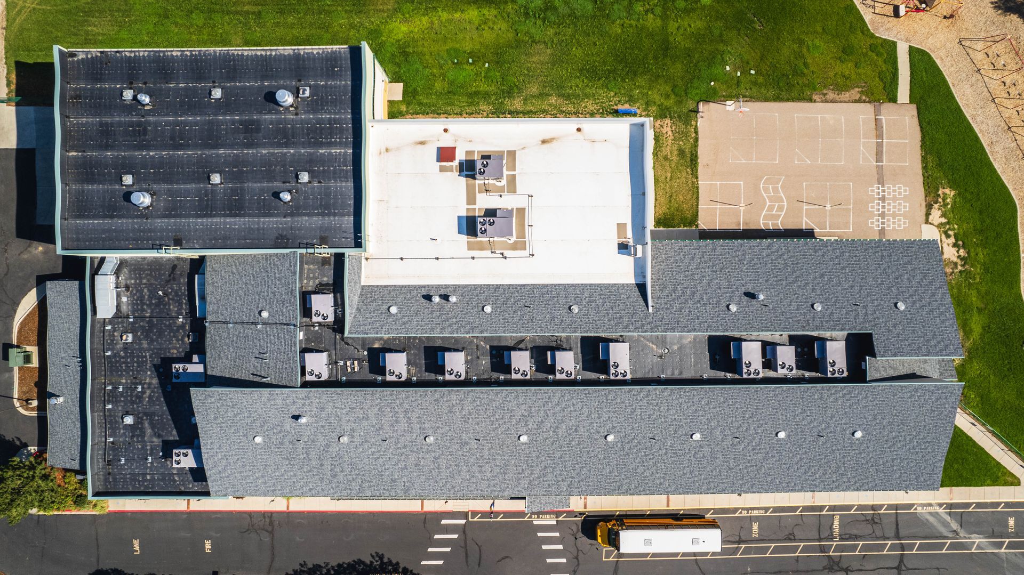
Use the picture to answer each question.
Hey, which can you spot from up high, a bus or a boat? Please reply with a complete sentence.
Of the two, only a bus appears.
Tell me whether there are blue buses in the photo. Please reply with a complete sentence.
No, no blue bus can be seen from above.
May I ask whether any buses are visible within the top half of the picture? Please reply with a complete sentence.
No, there is no bus within the top half of the picture.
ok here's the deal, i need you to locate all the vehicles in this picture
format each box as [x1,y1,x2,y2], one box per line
[593,518,722,553]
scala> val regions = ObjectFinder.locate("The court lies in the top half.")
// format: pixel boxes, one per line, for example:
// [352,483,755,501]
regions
[698,102,925,239]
